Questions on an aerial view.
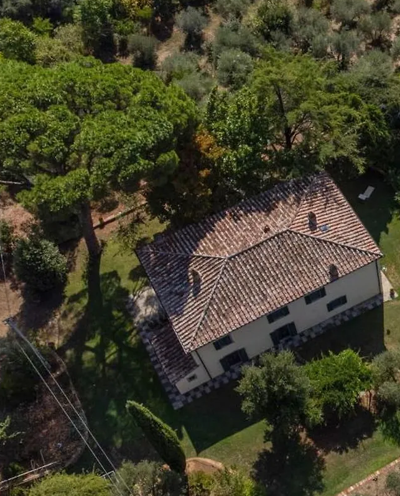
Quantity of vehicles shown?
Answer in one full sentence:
The picture shows no vehicles.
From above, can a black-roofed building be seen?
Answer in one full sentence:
No, there appears to be no black-roofed building in this shot.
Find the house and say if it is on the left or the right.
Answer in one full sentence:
It is on the right.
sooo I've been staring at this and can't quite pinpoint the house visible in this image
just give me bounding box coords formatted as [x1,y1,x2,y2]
[135,167,385,394]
